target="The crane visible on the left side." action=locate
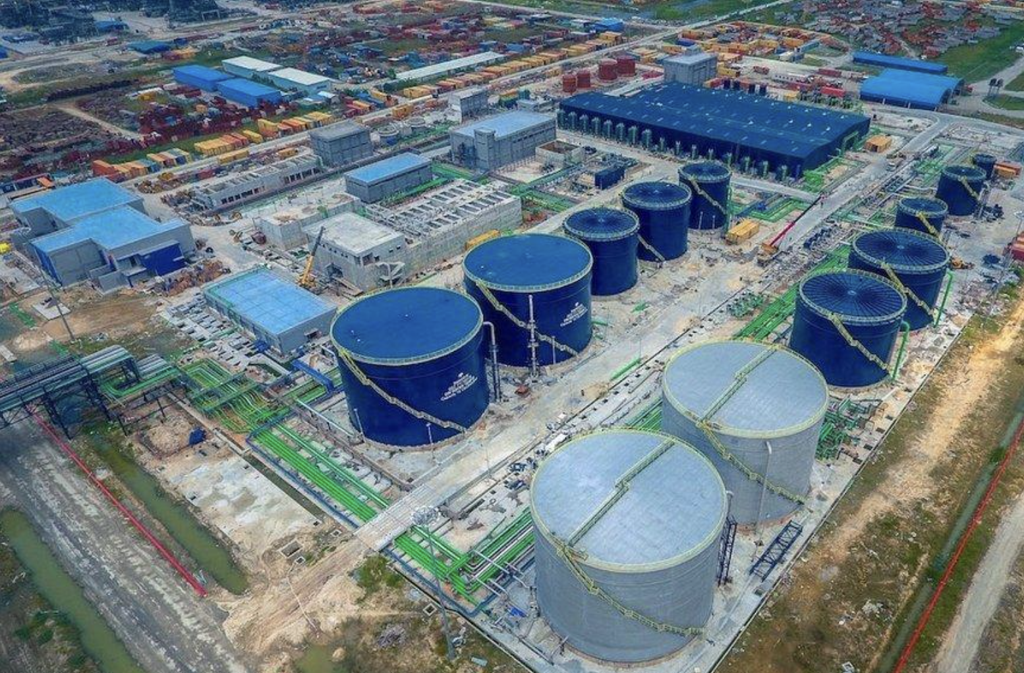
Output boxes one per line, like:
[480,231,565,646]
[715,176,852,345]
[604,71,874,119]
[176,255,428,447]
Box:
[292,225,326,286]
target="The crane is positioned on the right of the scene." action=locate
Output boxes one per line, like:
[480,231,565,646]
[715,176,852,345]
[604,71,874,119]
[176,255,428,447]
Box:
[749,193,822,262]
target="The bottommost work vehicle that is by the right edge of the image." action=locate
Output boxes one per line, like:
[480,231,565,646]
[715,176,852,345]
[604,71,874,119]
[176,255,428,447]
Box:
[949,252,987,269]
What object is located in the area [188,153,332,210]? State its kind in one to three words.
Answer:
building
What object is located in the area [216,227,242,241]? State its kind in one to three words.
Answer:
work vehicle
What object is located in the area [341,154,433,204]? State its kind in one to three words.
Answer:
building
